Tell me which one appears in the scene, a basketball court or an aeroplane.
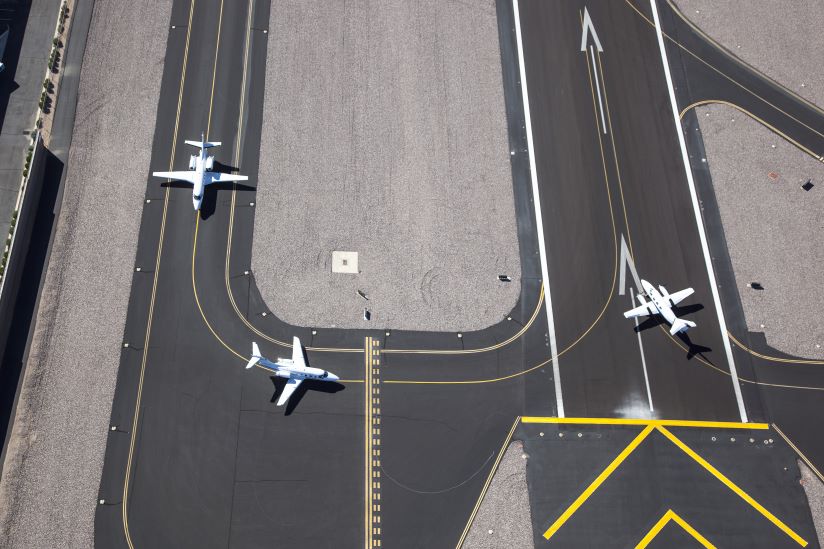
aeroplane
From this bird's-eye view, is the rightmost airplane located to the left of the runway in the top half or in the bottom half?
bottom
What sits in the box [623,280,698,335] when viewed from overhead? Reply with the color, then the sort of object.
white airplane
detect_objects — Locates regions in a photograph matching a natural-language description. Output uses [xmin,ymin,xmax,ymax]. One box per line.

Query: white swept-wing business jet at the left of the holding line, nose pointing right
[246,337,341,406]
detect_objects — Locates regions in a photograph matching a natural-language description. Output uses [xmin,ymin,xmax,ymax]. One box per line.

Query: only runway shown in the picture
[508,0,768,428]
